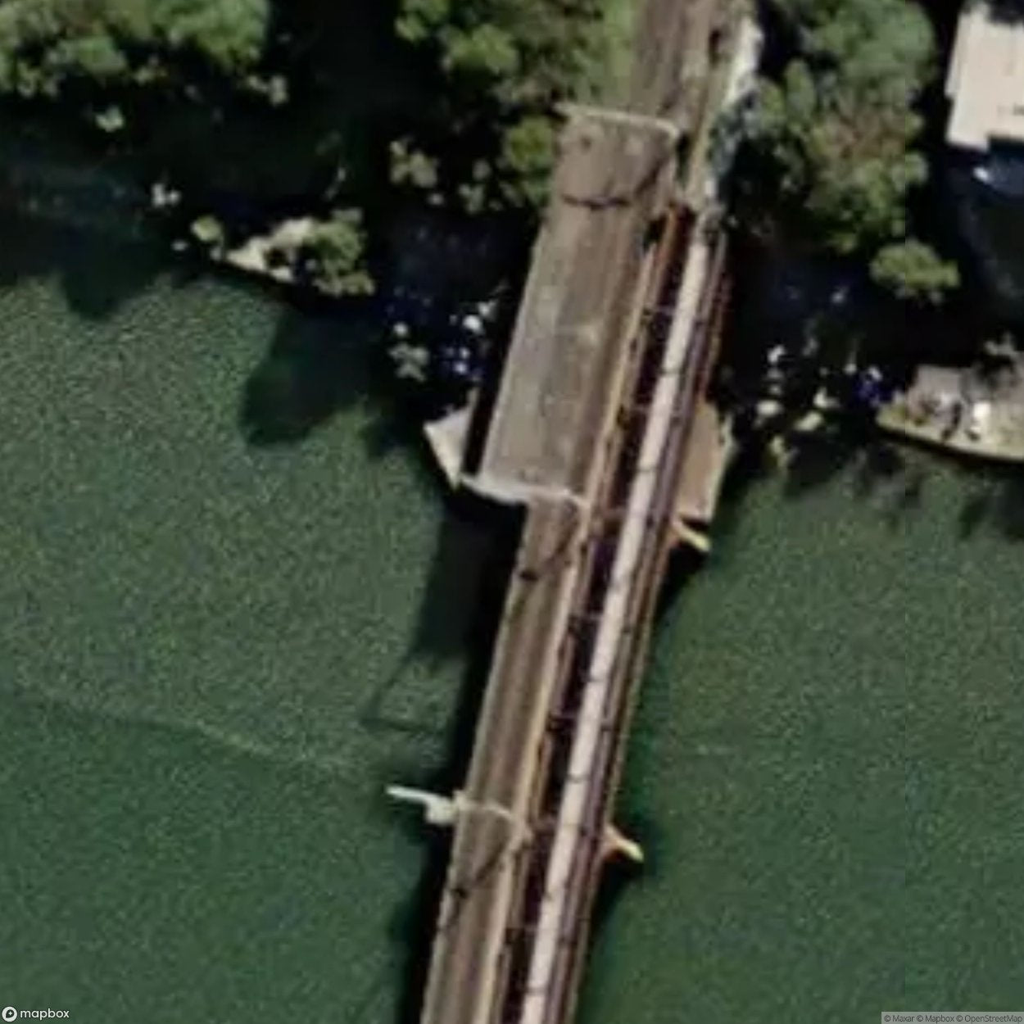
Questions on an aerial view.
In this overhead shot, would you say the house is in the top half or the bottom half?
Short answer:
top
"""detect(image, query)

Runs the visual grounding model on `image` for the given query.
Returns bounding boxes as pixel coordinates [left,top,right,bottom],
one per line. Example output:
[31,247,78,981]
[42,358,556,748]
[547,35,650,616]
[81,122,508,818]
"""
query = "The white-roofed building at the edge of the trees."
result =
[945,3,1024,162]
